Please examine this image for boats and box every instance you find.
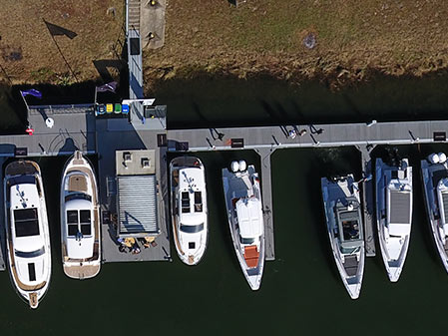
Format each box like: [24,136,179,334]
[421,152,448,275]
[321,146,366,298]
[169,153,210,265]
[1,155,52,309]
[223,148,267,289]
[375,148,411,281]
[59,151,101,279]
